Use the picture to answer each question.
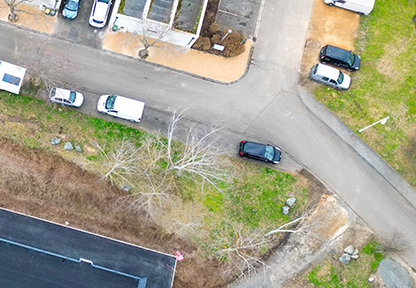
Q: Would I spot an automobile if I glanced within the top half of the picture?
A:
Yes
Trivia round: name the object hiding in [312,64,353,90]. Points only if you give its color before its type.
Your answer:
white car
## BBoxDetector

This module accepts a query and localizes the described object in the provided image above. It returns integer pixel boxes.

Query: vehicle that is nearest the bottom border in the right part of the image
[241,142,283,166]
